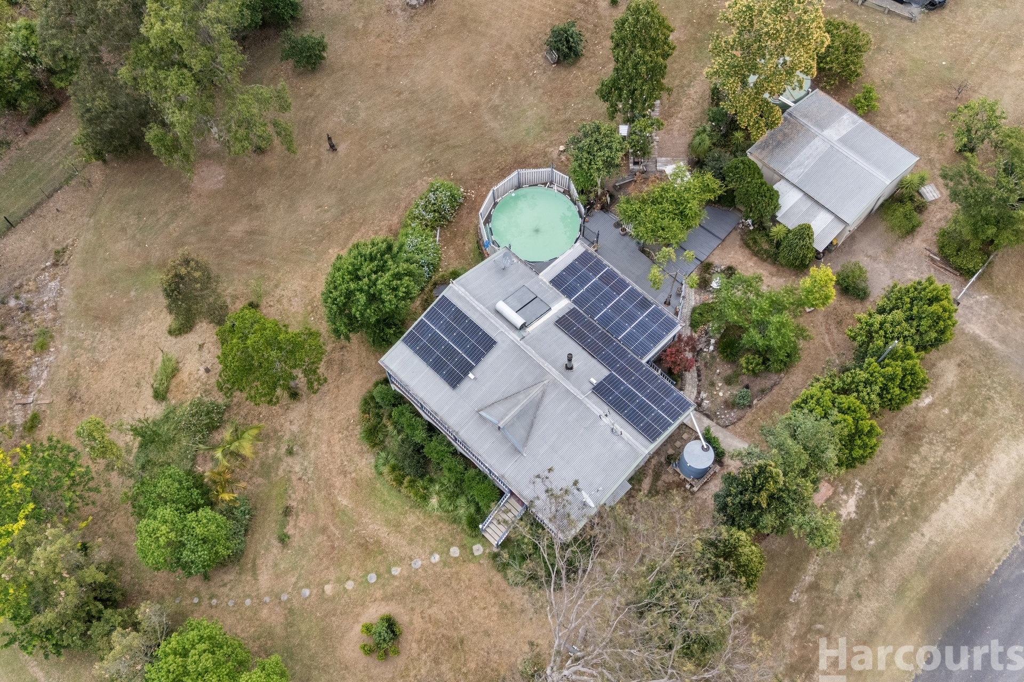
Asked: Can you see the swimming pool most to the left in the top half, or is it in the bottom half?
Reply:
top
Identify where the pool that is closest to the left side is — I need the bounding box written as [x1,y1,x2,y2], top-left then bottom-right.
[489,185,582,269]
